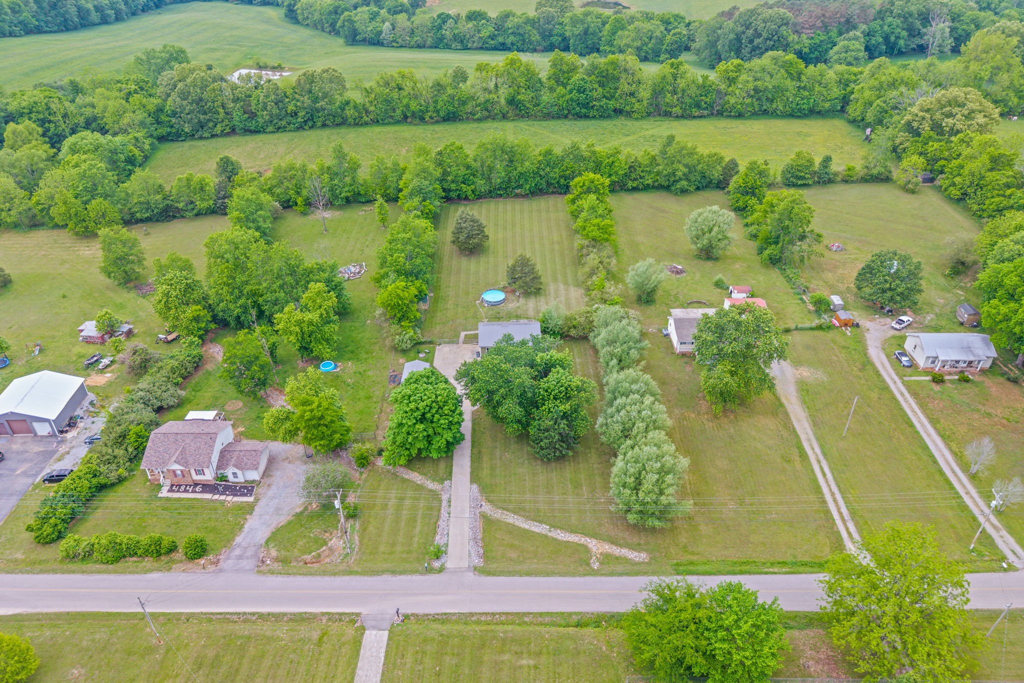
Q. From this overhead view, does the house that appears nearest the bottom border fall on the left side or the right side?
left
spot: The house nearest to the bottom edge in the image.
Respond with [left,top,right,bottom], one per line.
[139,420,271,489]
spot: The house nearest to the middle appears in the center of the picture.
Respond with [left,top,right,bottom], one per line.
[479,316,543,347]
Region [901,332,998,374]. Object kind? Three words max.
house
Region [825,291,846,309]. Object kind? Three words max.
vehicle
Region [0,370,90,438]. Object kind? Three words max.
building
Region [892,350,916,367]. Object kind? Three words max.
car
